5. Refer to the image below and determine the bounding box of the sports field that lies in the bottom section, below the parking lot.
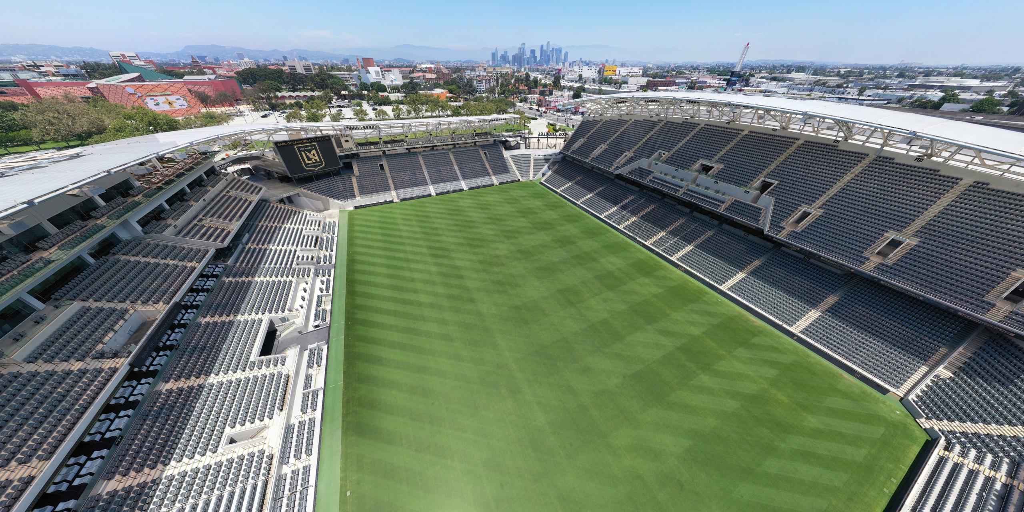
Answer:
[341,181,933,512]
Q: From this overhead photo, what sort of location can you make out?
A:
sports ground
